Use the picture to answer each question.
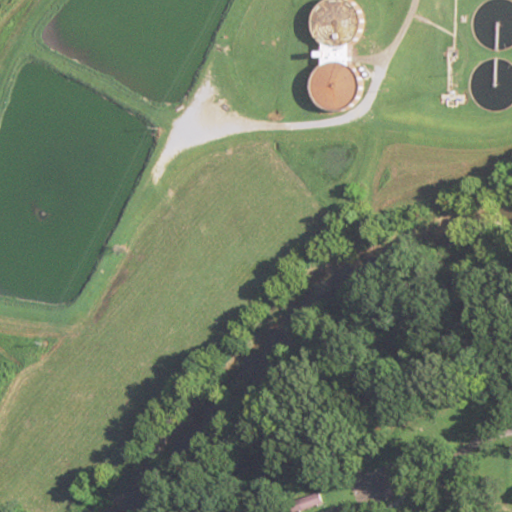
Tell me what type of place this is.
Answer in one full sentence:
This looks like an industrial area.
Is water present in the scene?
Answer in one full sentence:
Yes, there is water in the image.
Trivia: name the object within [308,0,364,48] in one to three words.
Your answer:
storage tank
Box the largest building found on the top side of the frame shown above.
[311,42,352,66]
